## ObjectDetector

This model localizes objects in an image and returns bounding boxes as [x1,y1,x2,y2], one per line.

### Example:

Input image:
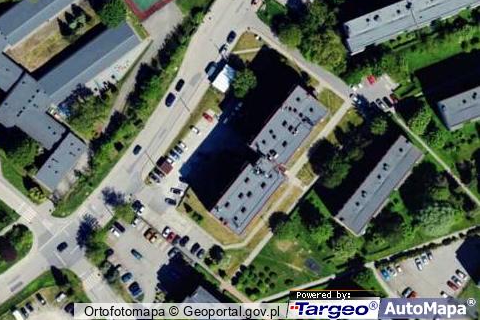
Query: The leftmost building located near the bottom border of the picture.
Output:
[177,286,241,320]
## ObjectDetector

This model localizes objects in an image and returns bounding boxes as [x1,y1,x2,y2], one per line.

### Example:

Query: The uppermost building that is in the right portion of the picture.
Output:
[343,0,480,56]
